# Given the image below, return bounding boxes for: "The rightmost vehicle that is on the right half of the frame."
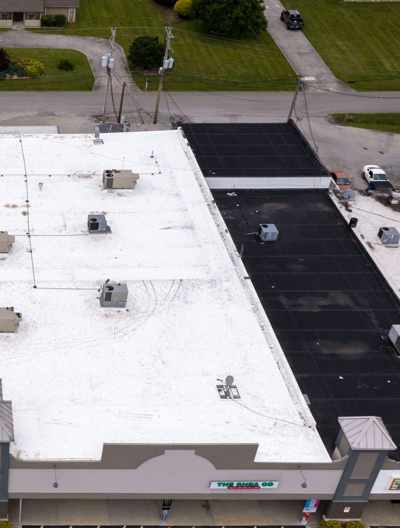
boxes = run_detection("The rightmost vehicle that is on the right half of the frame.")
[364,165,397,189]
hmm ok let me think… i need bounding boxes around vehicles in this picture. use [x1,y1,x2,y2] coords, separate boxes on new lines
[327,166,358,189]
[282,7,311,27]
[364,165,397,189]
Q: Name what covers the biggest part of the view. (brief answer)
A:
buildings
